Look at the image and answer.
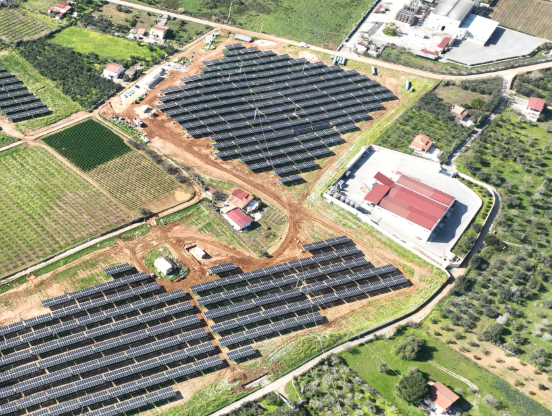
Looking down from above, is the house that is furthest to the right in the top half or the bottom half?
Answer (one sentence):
The house that is furthest to the right is in the top half of the image.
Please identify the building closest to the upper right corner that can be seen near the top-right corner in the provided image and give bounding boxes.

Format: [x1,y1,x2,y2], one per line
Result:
[461,14,500,43]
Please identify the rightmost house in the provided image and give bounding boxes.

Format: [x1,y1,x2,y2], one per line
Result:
[521,98,545,123]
